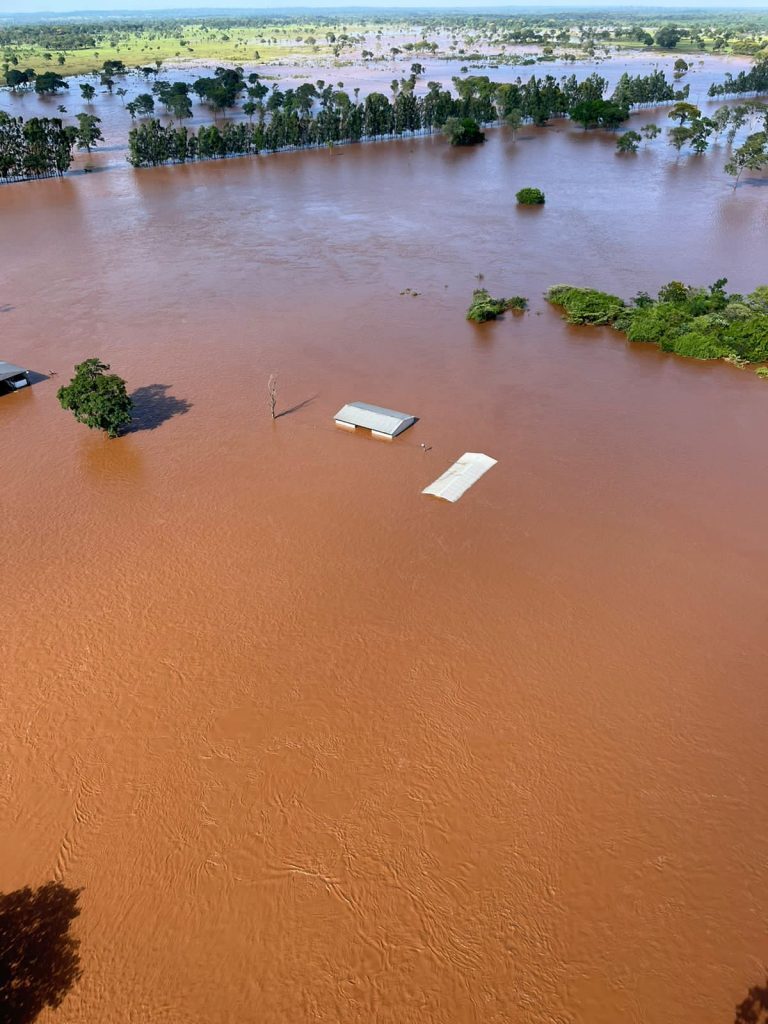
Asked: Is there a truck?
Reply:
No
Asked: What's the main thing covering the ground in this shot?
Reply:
water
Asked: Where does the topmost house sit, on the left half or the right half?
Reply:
left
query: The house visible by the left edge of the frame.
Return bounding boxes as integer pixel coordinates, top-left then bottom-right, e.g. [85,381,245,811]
[0,361,29,390]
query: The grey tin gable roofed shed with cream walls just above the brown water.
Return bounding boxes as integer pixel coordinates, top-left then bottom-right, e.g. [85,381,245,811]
[333,401,415,439]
